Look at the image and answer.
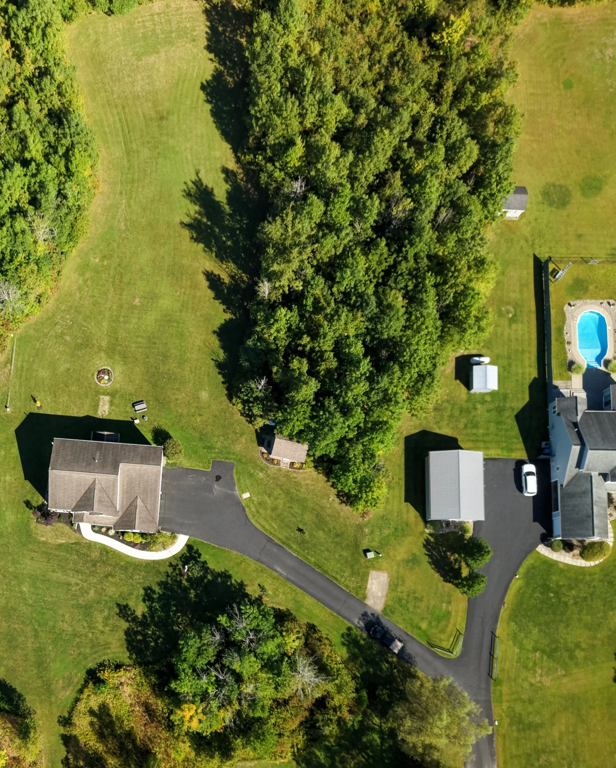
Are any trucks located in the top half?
No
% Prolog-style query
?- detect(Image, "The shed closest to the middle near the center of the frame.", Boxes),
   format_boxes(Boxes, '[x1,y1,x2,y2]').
[271,432,309,462]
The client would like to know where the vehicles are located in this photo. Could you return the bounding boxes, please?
[522,465,540,497]
[366,619,406,655]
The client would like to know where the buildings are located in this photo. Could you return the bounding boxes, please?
[425,450,485,521]
[503,186,533,218]
[46,431,165,534]
[470,365,499,392]
[271,432,309,462]
[550,385,616,540]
